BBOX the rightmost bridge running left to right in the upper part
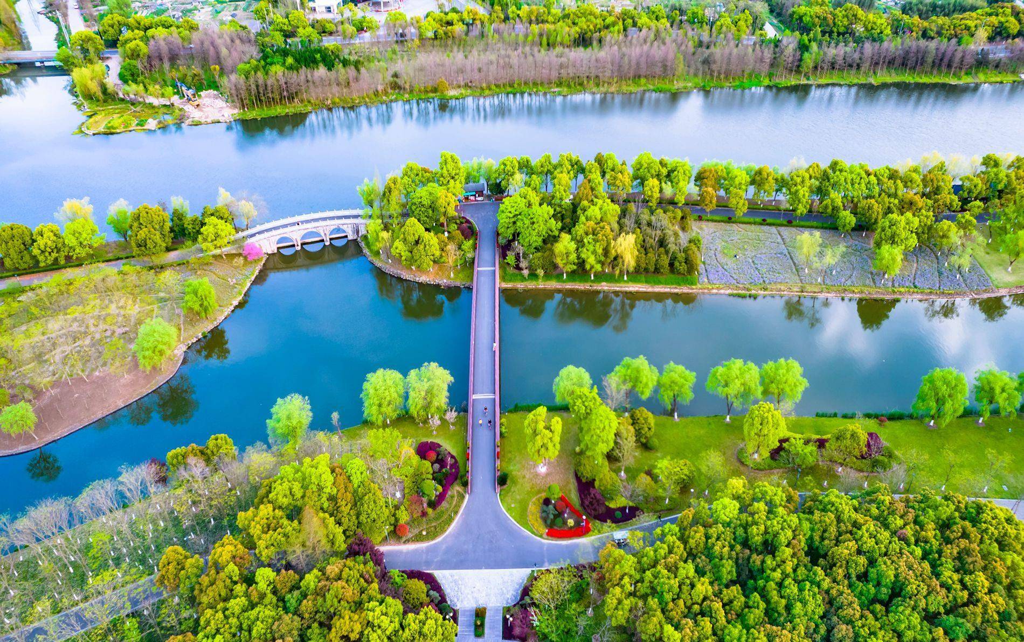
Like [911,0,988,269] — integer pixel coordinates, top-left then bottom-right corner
[222,210,399,257]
